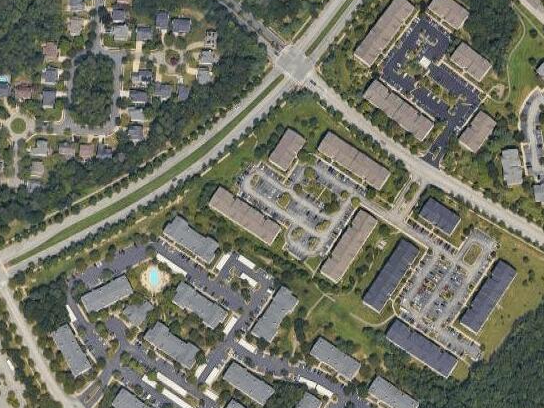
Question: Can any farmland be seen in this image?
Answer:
No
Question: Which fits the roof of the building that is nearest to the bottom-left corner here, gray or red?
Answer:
gray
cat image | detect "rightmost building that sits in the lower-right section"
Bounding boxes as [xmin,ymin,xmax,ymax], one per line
[460,261,518,333]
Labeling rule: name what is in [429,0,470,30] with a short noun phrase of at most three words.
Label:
building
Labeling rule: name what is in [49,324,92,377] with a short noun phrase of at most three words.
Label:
building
